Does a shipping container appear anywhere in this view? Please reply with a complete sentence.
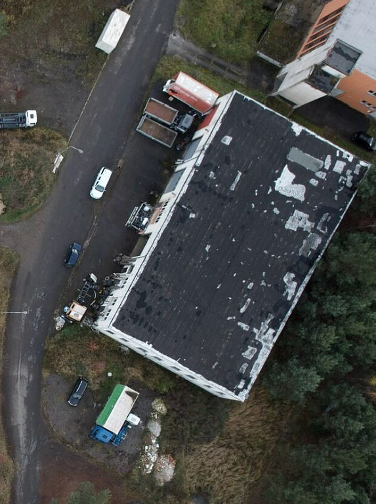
Yes, the image includes a shipping container.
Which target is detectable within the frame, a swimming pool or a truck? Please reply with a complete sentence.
The one in the frame is a truck.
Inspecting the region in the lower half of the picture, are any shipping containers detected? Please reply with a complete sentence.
No, no shipping container can be made out in the lower half of the picture.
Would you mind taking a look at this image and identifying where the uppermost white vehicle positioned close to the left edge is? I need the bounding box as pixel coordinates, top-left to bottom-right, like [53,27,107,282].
[0,107,40,129]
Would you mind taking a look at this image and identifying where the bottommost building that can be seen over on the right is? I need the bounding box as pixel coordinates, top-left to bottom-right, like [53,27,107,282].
[95,92,370,399]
